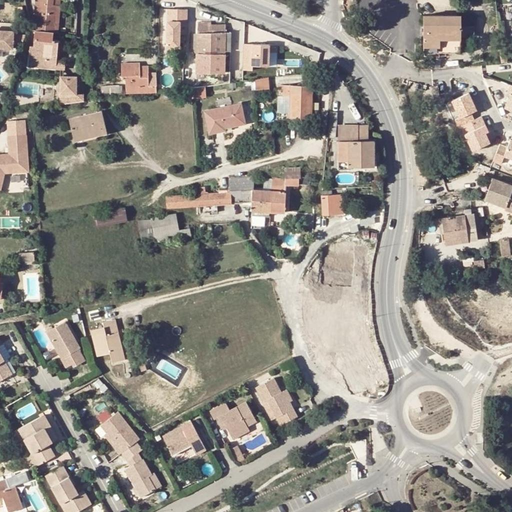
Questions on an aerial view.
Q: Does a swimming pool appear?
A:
Yes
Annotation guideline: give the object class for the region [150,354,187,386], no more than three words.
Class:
swimming pool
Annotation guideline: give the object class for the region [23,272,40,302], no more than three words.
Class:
swimming pool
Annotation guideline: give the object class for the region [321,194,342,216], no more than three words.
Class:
house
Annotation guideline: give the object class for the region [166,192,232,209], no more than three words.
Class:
building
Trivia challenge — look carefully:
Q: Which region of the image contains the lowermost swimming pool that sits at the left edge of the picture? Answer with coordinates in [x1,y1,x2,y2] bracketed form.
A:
[25,481,51,512]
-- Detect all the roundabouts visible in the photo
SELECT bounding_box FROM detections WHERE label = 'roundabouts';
[388,370,474,456]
